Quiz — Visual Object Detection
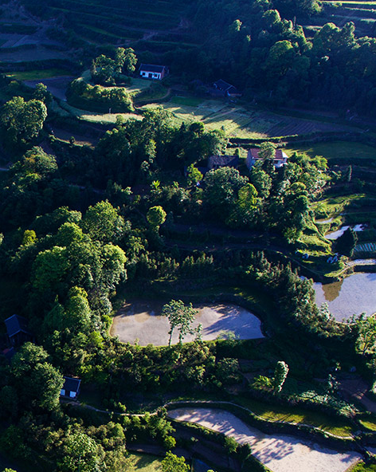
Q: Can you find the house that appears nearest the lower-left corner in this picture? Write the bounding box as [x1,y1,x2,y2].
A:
[61,378,82,396]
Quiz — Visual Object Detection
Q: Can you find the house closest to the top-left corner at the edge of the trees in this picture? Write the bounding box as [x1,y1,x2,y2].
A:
[140,62,167,78]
